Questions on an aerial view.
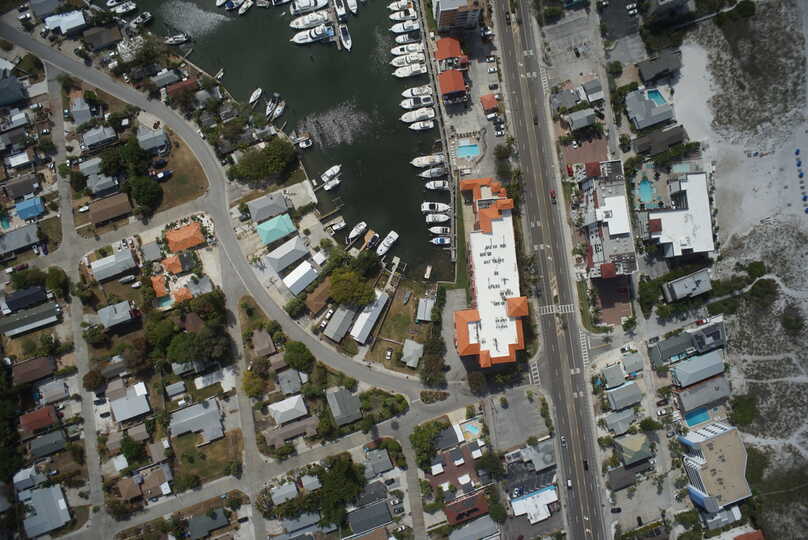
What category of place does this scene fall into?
residential area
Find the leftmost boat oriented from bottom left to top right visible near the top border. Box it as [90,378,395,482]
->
[128,11,155,31]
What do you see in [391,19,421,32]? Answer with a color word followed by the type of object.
white boat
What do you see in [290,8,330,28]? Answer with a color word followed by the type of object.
white boat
